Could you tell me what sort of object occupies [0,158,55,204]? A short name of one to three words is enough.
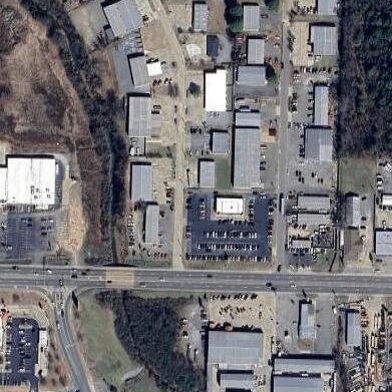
building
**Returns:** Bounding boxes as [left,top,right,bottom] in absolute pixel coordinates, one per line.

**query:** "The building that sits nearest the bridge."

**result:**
[145,204,159,244]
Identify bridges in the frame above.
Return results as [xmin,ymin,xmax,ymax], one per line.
[106,268,135,291]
